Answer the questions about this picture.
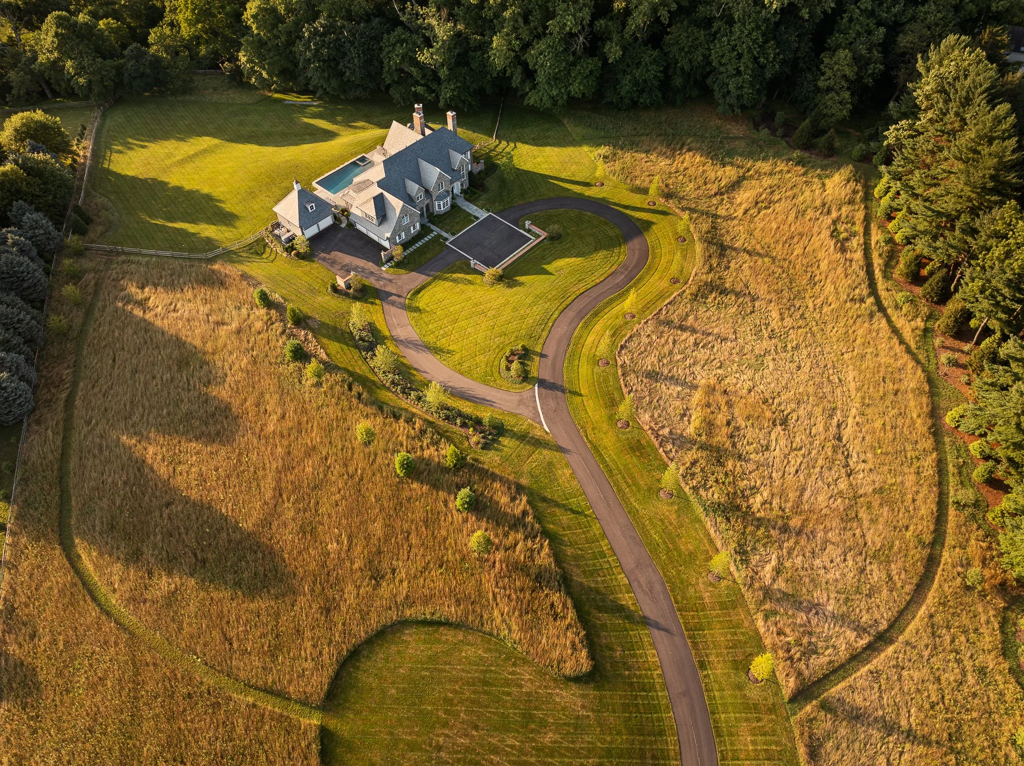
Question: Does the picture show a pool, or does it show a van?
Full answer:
This aerial view contains a pool.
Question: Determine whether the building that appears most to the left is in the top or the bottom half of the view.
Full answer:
The building that appears most to the left is in the top half of the image.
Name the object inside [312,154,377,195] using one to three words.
swimming pool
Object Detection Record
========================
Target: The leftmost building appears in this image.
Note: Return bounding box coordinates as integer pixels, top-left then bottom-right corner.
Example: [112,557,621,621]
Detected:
[270,175,335,238]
